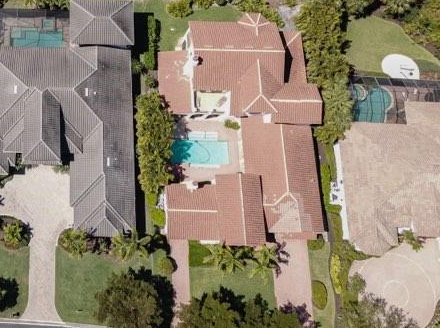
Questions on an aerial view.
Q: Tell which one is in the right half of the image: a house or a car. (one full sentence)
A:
Looking in the right half of the image, you will find a house.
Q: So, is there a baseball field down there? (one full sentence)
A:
No, the picture doesn't show any baseball field.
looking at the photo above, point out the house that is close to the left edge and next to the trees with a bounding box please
[0,0,135,237]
